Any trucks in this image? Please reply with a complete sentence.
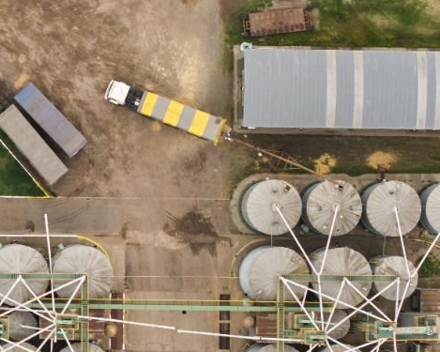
Yes, I can see a truck in this picture.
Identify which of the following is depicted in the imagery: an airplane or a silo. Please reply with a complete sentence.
Visible in the photo is a silo.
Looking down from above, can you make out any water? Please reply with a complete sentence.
No, water can't be seen anywhere here.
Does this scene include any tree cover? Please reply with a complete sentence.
No, the picture contains no tree cover.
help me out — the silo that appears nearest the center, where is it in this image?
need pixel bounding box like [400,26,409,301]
[238,178,302,237]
